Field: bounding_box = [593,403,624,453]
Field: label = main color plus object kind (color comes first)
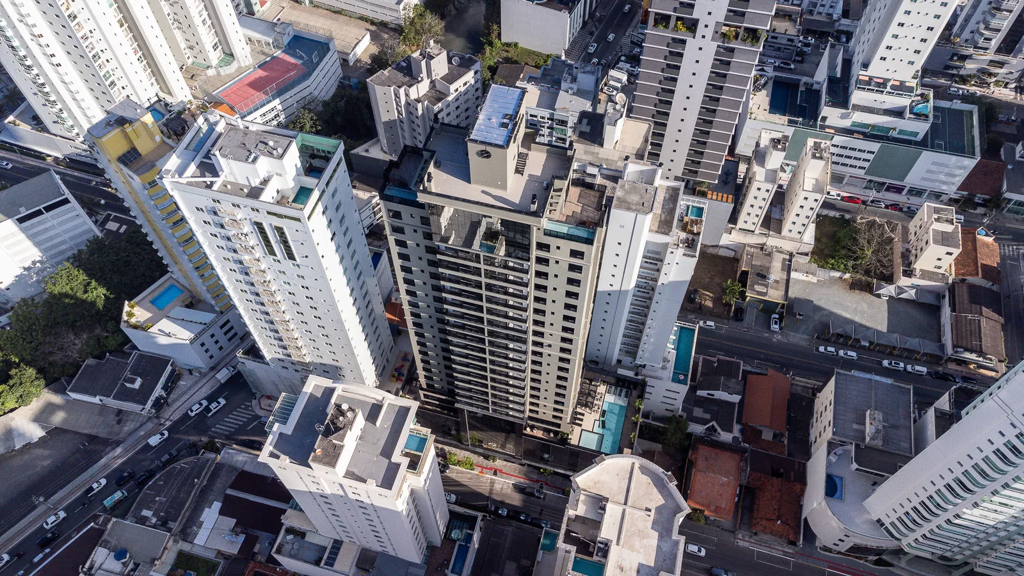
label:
blue swimming pool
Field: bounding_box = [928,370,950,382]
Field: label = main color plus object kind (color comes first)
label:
black vehicle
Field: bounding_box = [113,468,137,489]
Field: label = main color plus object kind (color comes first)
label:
black car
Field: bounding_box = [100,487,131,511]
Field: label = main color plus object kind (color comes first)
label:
blue truck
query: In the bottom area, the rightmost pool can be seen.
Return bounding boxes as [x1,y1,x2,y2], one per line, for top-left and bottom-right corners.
[821,473,843,503]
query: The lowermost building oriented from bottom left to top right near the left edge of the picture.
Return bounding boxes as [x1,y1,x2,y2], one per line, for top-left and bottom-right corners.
[32,524,112,576]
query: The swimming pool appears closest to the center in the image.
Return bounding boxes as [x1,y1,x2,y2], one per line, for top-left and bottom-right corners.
[545,220,597,240]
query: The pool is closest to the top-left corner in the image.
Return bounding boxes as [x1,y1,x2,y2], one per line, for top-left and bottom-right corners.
[147,104,166,122]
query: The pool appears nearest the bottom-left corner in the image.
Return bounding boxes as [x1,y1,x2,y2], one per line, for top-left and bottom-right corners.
[148,282,185,311]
